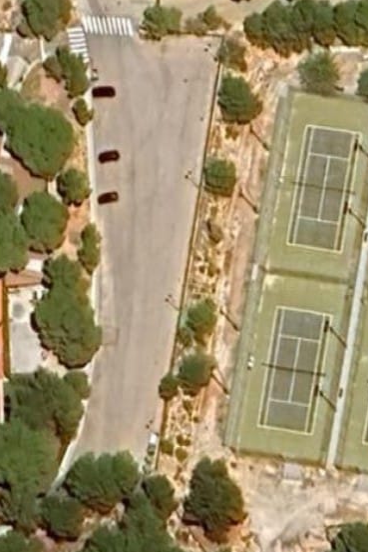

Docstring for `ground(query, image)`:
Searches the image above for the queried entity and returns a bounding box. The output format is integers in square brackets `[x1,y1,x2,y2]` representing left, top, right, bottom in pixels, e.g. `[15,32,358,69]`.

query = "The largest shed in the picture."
[5,272,41,291]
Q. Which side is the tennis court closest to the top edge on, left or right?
right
